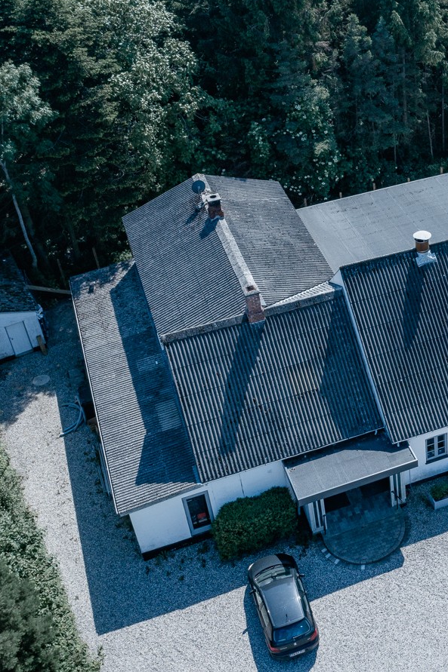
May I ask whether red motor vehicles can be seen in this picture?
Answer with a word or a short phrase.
No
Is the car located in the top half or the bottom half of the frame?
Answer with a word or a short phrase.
bottom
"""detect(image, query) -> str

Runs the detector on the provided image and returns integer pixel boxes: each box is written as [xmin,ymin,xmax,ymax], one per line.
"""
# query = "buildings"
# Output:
[0,246,47,357]
[66,171,448,558]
